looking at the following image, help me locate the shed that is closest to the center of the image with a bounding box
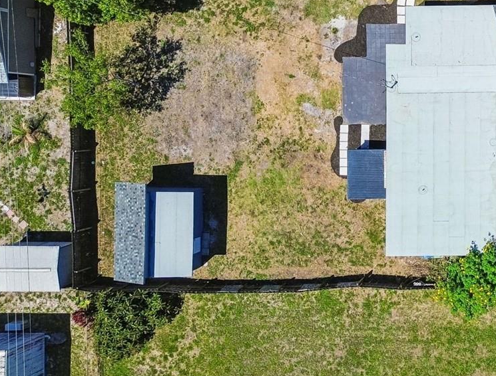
[113,180,203,285]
